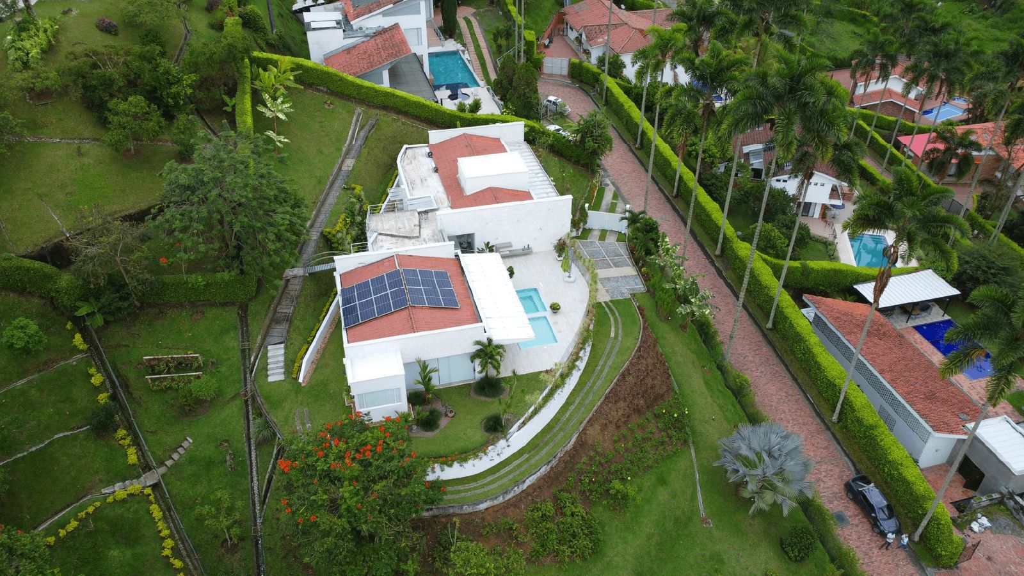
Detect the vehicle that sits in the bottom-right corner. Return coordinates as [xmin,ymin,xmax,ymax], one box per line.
[843,468,907,541]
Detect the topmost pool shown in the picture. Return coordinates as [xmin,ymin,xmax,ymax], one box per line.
[430,49,482,89]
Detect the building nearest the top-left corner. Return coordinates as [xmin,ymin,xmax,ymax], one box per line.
[302,0,445,113]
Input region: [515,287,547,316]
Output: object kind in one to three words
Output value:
swimming pool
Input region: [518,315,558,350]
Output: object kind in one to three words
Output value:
swimming pool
